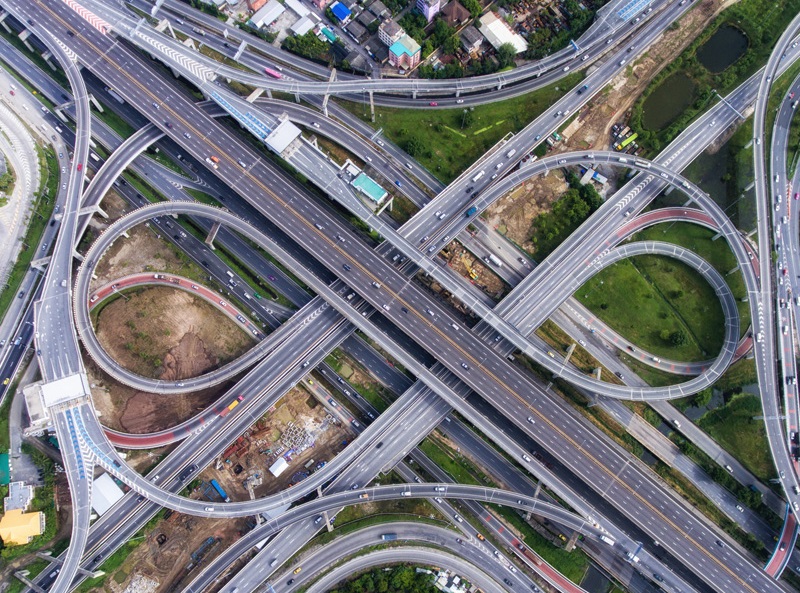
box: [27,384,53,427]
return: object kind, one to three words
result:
building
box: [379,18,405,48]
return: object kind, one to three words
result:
building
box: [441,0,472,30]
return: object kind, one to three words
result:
house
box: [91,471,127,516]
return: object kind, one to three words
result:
shed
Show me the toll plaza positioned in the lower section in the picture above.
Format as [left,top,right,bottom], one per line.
[41,355,91,408]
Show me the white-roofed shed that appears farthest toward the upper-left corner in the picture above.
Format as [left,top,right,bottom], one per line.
[249,0,286,31]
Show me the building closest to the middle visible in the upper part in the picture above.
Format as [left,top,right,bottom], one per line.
[339,159,394,215]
